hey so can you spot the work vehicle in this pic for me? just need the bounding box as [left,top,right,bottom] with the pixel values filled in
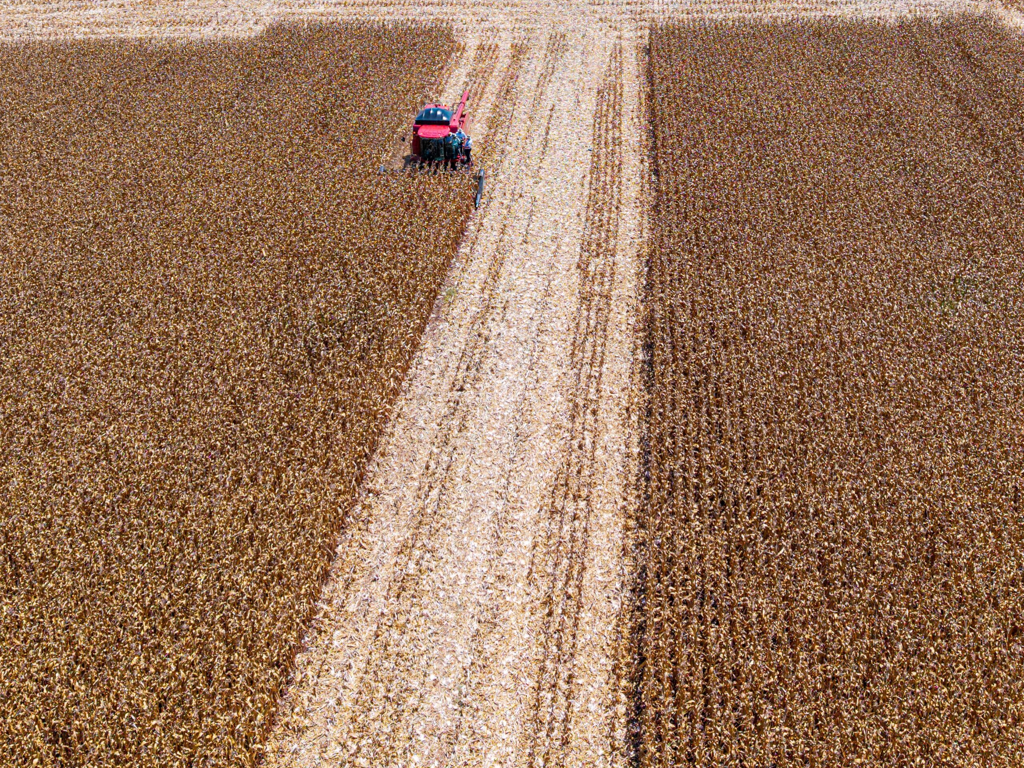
[376,84,487,213]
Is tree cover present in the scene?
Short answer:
No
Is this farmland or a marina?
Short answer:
farmland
